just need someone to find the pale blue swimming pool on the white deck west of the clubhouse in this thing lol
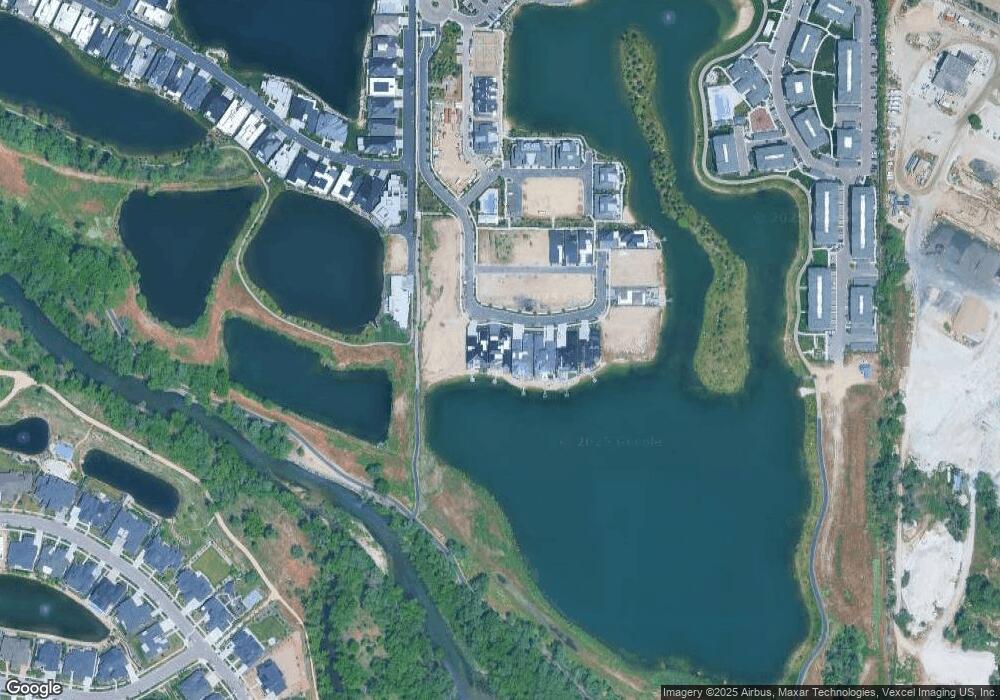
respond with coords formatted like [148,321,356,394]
[708,86,745,125]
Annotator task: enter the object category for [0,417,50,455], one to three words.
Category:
pond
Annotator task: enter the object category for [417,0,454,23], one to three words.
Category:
roundabout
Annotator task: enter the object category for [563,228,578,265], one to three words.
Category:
house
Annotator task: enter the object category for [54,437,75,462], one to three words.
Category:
swimming pool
